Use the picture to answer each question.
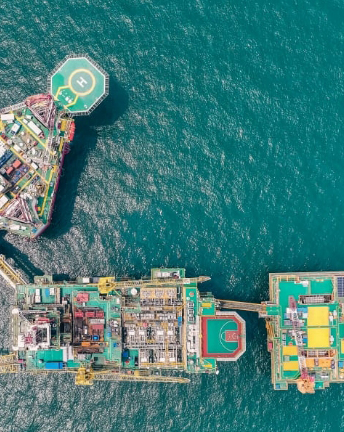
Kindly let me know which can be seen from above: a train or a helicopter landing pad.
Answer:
helicopter landing pad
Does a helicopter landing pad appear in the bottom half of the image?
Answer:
No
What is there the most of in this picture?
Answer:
water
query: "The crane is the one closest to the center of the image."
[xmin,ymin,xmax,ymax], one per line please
[95,276,211,292]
